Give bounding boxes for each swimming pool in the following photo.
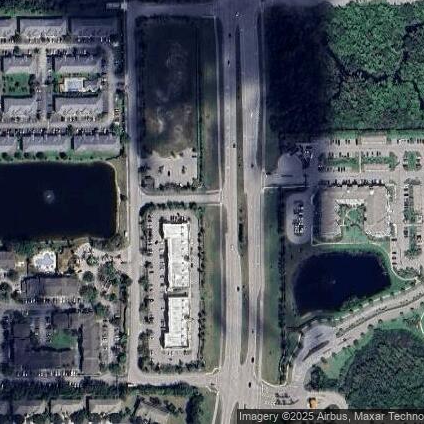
[65,78,83,91]
[36,253,56,270]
